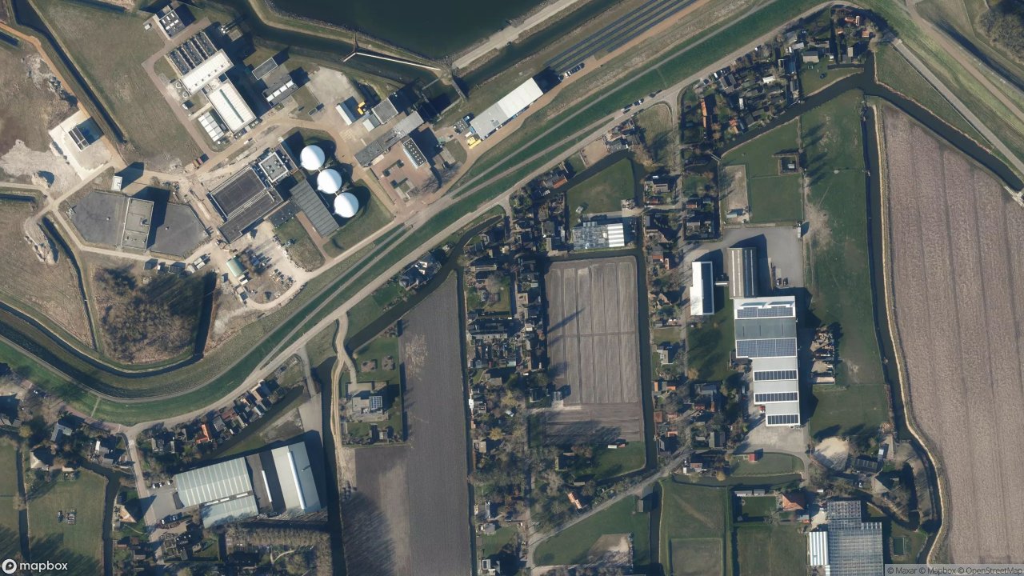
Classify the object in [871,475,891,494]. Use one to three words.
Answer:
house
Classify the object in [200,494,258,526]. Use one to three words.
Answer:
building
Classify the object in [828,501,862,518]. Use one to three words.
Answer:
greenhouse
